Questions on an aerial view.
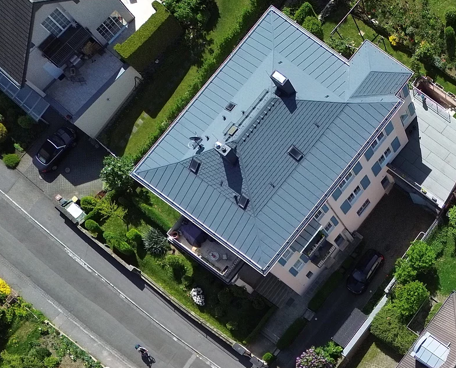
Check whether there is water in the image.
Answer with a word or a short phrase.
No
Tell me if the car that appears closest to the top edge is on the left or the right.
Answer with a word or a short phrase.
left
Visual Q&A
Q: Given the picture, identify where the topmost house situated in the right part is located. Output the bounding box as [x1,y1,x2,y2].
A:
[128,3,456,315]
